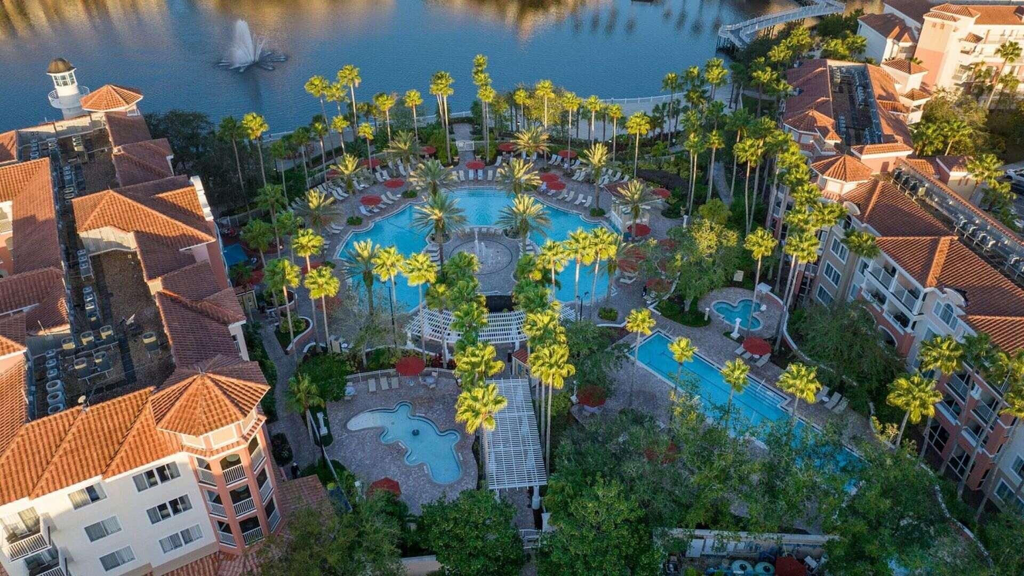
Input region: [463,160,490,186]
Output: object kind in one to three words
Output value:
umbrella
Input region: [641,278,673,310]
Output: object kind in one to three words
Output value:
umbrella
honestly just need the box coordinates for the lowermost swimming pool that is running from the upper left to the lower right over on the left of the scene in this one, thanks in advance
[346,401,463,485]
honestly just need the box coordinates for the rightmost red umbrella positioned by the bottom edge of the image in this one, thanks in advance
[773,553,807,576]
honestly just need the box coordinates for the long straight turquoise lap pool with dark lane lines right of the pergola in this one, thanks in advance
[627,327,877,498]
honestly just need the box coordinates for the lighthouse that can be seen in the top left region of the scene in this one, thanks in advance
[50,56,93,121]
